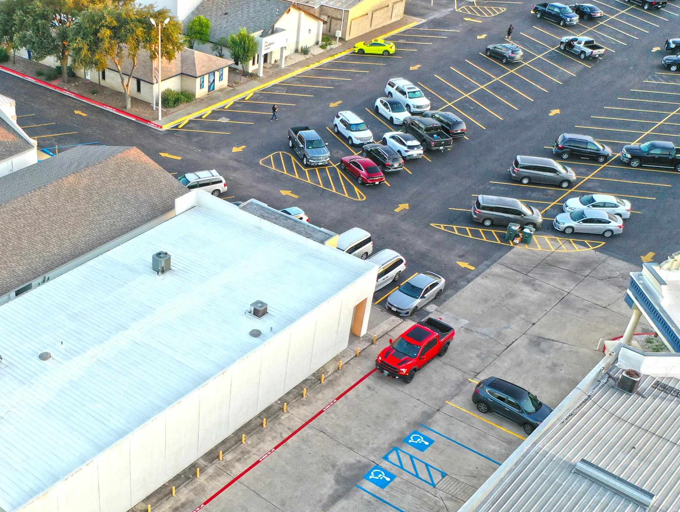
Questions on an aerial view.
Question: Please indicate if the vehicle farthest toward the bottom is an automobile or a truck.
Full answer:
Specifically, the vehicle farthest toward the bottom is an automobile.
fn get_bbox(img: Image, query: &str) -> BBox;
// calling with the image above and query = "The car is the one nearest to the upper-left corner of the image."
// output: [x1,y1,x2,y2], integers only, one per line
[181,169,233,198]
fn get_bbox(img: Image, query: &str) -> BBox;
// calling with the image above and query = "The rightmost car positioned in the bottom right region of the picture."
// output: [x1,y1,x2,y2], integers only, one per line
[469,376,555,435]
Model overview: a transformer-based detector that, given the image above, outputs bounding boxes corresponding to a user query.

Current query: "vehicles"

[353,38,397,56]
[554,208,626,236]
[336,225,380,260]
[340,155,385,185]
[332,111,374,146]
[665,56,680,71]
[386,270,448,315]
[401,115,451,150]
[374,97,412,124]
[569,194,641,222]
[486,40,525,63]
[181,169,233,198]
[512,156,582,187]
[473,194,547,229]
[622,141,680,168]
[551,133,617,162]
[363,142,405,172]
[365,245,411,295]
[624,0,668,10]
[469,376,555,435]
[559,35,606,60]
[371,320,456,385]
[420,109,464,137]
[382,131,424,158]
[388,75,432,111]
[568,2,603,20]
[536,2,581,26]
[288,127,331,167]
